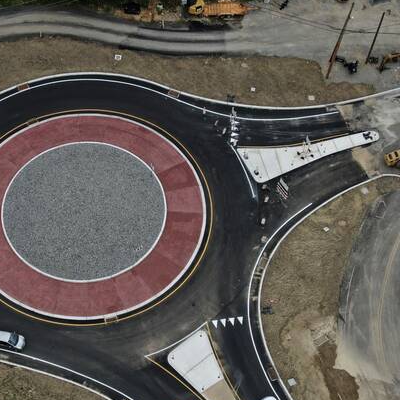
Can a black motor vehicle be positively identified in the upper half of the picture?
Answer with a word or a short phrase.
Yes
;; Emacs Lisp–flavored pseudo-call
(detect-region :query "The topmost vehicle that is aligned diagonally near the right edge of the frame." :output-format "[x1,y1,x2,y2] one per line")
[376,50,400,71]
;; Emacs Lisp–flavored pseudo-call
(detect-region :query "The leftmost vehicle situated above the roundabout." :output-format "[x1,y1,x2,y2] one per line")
[121,2,144,19]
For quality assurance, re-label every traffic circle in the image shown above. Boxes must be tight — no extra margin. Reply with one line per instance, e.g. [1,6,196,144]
[0,79,339,400]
